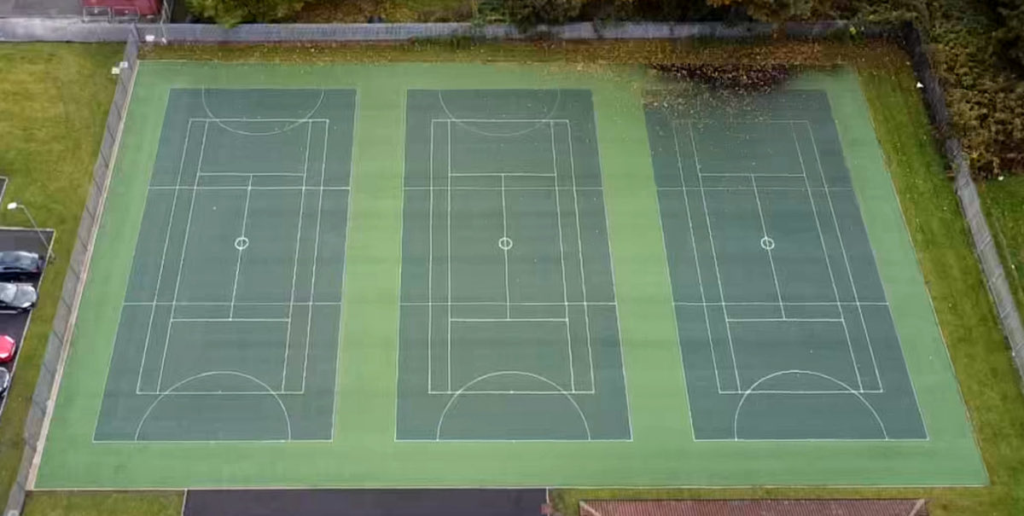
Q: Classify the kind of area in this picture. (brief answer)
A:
sports ground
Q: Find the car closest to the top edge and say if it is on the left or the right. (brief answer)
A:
left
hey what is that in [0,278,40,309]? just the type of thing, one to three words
car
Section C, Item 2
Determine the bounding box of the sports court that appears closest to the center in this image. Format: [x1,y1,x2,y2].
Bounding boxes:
[396,88,631,440]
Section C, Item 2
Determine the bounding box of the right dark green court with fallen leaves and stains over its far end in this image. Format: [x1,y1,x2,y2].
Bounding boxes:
[642,89,927,439]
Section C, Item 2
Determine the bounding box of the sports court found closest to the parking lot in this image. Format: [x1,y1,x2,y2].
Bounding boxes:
[95,88,357,441]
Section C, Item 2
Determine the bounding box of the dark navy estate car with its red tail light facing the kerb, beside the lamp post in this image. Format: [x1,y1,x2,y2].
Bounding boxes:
[0,250,49,282]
